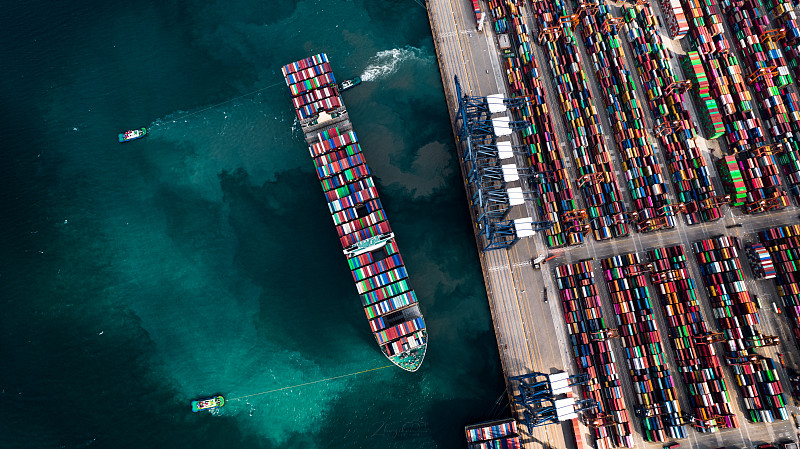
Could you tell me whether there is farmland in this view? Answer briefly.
No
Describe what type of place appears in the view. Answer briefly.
port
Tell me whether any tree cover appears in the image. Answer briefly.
No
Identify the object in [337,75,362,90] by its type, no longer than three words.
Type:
boat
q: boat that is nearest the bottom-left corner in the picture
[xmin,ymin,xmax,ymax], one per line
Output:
[191,395,223,412]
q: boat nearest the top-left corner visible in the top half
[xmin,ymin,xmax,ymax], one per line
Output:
[116,126,146,141]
